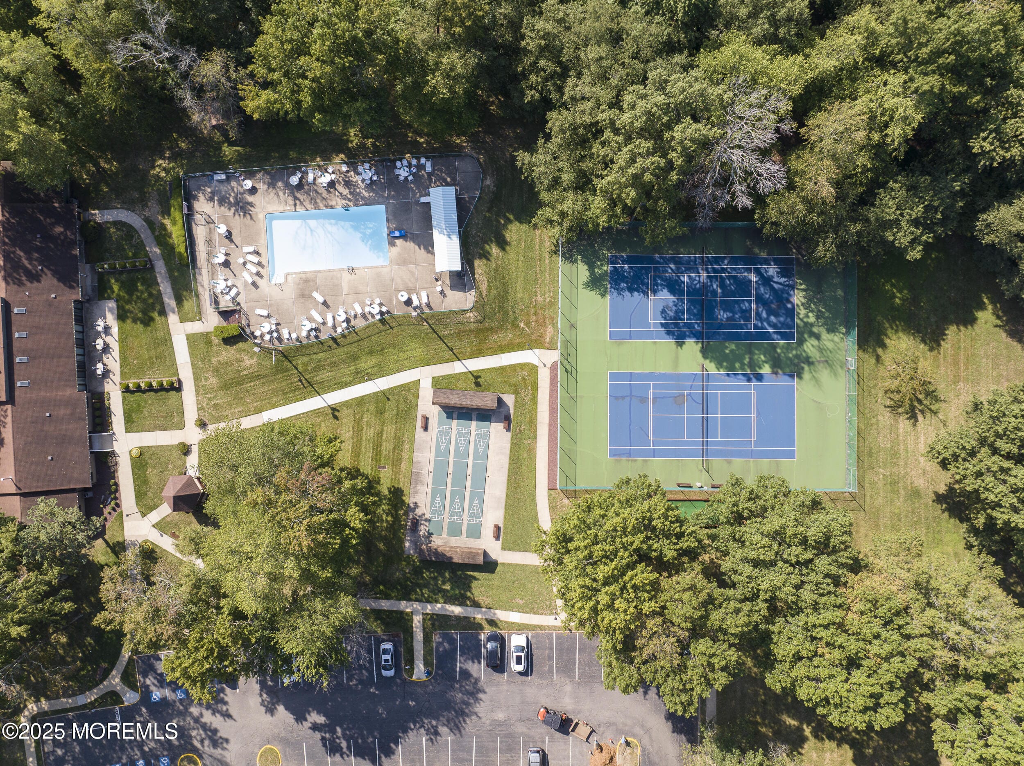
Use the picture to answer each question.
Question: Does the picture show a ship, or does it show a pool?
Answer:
pool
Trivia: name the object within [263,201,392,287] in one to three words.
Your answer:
swimming pool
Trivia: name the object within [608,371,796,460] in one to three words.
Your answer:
tennis court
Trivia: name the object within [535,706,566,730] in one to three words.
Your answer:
vehicle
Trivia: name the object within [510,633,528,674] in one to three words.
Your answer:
car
